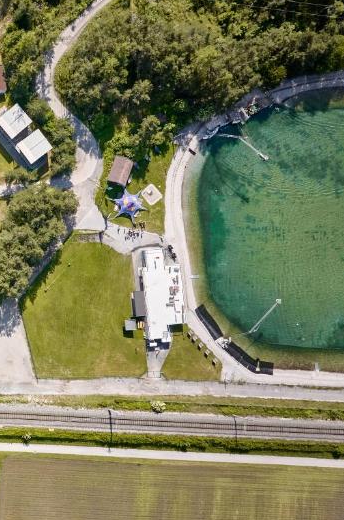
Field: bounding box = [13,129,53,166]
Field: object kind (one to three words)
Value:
house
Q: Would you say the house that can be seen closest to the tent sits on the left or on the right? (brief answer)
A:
left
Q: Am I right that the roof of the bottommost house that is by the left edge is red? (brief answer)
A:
No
